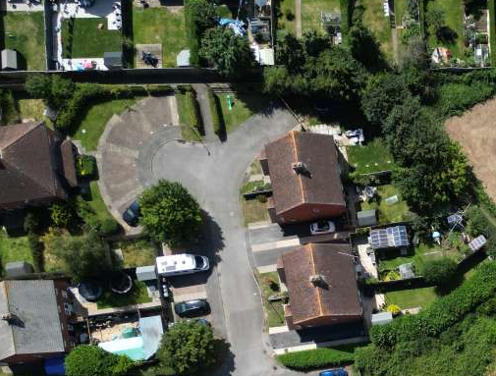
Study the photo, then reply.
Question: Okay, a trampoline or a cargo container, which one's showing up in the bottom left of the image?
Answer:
trampoline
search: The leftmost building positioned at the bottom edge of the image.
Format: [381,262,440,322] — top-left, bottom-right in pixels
[0,277,81,365]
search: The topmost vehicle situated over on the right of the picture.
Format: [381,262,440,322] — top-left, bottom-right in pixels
[307,220,339,237]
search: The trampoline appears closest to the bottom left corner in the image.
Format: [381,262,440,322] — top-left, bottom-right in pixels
[78,281,104,304]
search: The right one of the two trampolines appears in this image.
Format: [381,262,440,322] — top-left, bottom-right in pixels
[112,274,133,294]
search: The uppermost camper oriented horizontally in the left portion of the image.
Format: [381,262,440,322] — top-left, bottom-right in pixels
[157,255,211,277]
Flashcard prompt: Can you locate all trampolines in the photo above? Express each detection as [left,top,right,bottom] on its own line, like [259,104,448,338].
[78,281,104,304]
[112,274,133,294]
